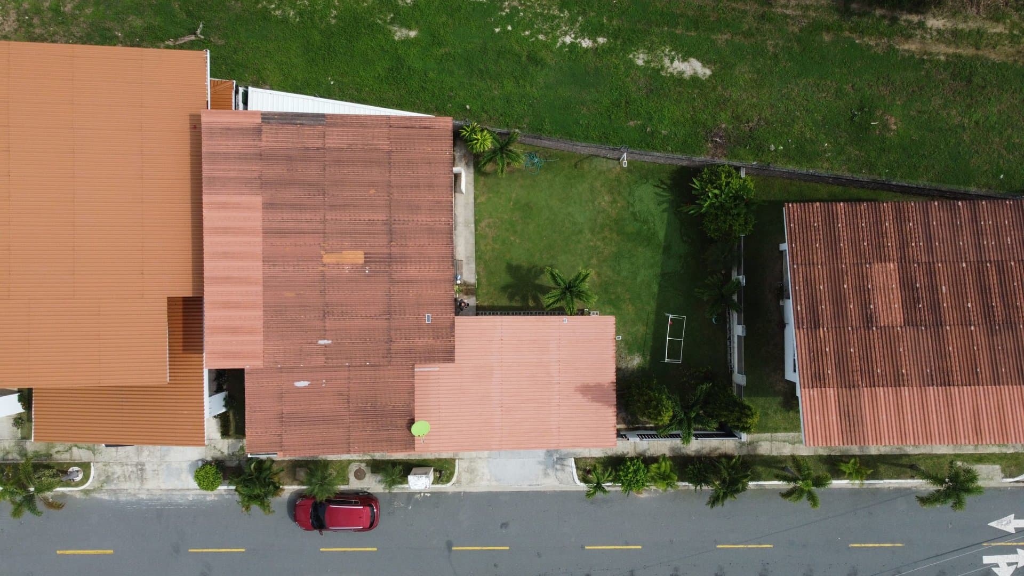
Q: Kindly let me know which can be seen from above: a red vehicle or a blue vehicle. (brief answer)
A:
red vehicle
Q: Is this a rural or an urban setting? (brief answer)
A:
urban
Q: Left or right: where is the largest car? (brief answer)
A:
left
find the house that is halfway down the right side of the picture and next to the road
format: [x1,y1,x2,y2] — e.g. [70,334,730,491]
[781,203,1024,447]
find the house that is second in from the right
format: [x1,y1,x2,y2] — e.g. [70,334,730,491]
[201,109,617,463]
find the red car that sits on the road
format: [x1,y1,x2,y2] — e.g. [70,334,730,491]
[294,490,382,535]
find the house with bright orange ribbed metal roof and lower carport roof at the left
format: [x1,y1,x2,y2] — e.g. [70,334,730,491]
[0,43,242,445]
